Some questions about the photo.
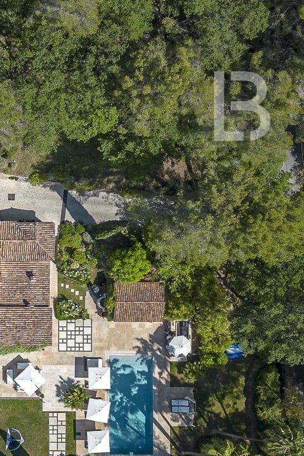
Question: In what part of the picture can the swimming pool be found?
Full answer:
The swimming pool is located in the bottom region of the scene.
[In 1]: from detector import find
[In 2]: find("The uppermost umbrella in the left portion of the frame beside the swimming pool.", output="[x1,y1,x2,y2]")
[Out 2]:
[87,367,110,390]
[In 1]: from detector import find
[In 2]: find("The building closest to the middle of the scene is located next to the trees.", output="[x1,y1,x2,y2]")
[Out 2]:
[107,282,165,322]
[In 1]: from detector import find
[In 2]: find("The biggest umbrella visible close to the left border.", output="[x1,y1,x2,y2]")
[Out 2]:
[13,364,46,396]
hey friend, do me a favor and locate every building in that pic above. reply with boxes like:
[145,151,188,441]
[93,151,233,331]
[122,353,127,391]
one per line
[107,282,165,322]
[0,221,56,347]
